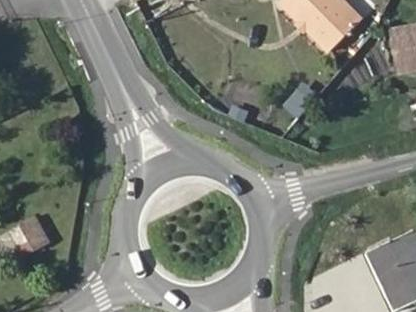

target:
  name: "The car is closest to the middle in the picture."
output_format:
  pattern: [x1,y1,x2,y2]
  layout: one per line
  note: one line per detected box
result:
[226,176,244,196]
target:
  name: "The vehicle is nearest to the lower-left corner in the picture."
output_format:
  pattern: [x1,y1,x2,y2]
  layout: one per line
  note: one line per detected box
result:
[128,252,146,278]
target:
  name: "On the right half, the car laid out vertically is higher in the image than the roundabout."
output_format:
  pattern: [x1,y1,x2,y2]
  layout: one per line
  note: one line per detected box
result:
[251,25,264,48]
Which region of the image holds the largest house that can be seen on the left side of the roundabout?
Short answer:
bottom left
